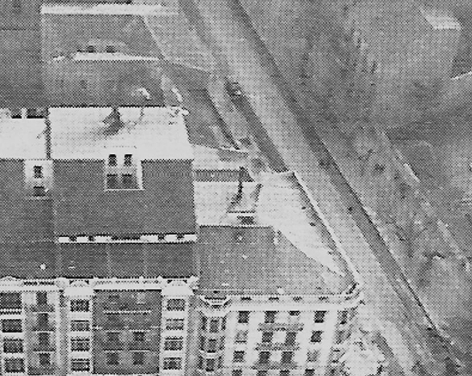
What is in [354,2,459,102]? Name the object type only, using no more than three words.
shed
